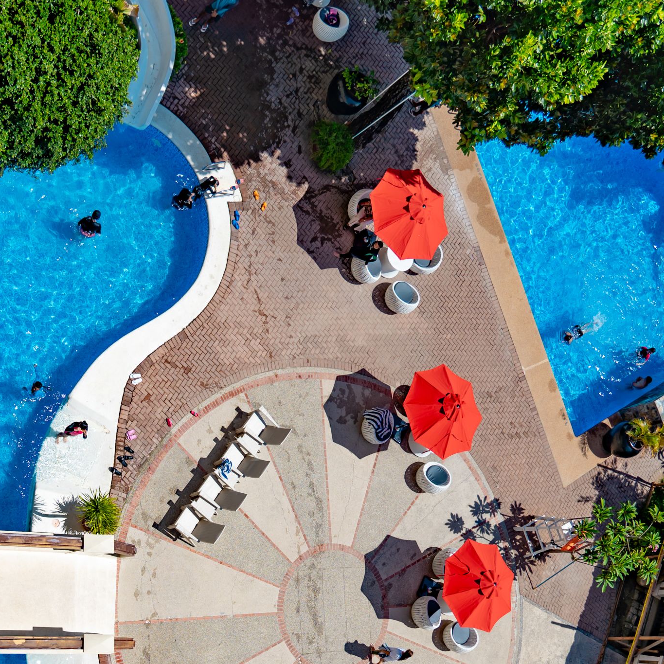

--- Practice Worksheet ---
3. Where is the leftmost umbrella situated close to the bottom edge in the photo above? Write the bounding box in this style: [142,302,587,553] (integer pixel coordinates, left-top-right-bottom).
[442,539,514,632]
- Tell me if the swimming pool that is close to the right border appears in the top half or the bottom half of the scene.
top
